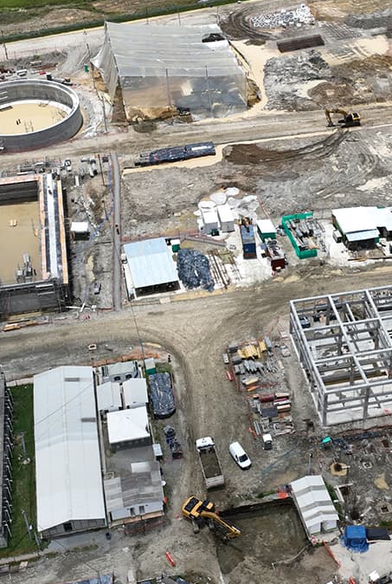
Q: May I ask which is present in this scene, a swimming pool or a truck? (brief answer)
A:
truck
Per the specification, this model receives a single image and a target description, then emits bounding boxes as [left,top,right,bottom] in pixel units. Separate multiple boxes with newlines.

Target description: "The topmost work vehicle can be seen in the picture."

[322,102,362,125]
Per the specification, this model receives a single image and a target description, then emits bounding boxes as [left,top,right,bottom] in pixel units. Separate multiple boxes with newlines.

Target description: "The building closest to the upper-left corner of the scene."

[70,221,89,239]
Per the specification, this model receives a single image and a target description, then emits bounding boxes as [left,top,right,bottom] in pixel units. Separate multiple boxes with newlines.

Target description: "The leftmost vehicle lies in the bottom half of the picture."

[166,430,182,456]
